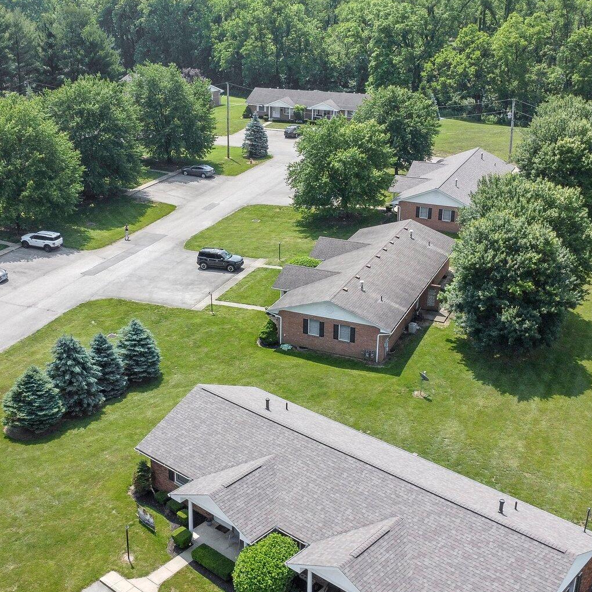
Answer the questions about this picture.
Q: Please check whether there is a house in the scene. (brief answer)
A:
Yes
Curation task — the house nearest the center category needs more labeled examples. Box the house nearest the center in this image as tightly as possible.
[265,217,460,364]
